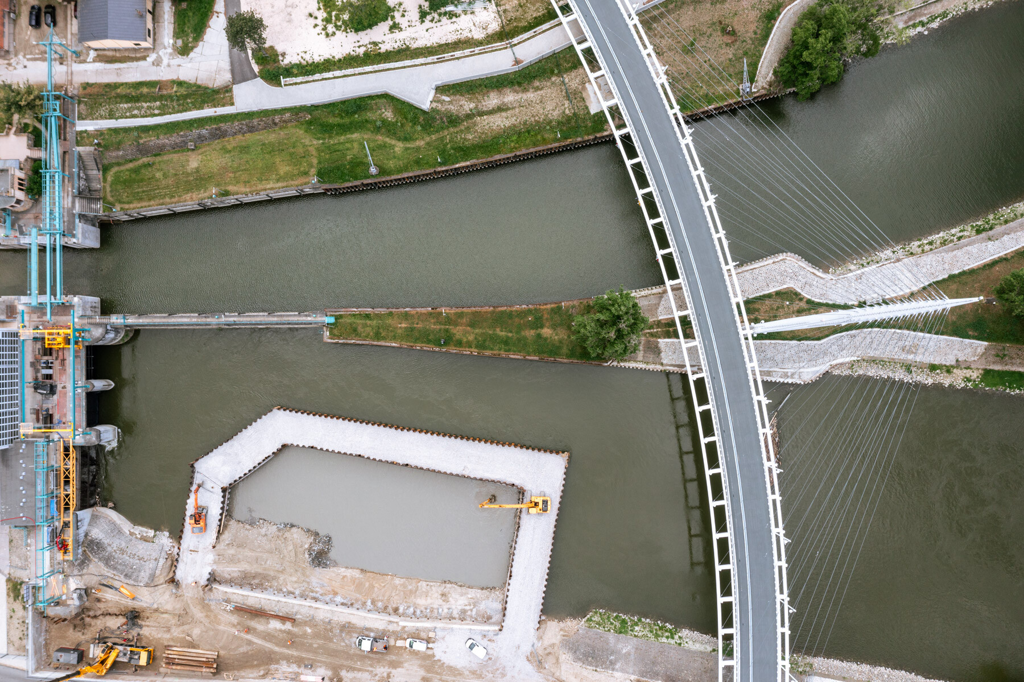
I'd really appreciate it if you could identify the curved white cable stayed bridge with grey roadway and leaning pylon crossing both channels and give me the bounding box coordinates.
[553,0,985,682]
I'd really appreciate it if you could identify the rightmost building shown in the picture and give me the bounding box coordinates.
[72,0,153,49]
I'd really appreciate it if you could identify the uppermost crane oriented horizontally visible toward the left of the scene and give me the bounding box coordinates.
[17,323,83,348]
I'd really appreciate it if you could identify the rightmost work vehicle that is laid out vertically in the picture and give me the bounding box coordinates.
[185,486,205,537]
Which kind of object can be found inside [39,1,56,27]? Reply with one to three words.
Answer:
car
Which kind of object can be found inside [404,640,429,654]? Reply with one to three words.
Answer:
vehicle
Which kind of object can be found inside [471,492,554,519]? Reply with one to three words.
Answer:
work vehicle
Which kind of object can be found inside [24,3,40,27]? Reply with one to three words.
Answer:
car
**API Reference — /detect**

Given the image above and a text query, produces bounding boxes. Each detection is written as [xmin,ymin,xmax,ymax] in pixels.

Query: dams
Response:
[0,296,139,512]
